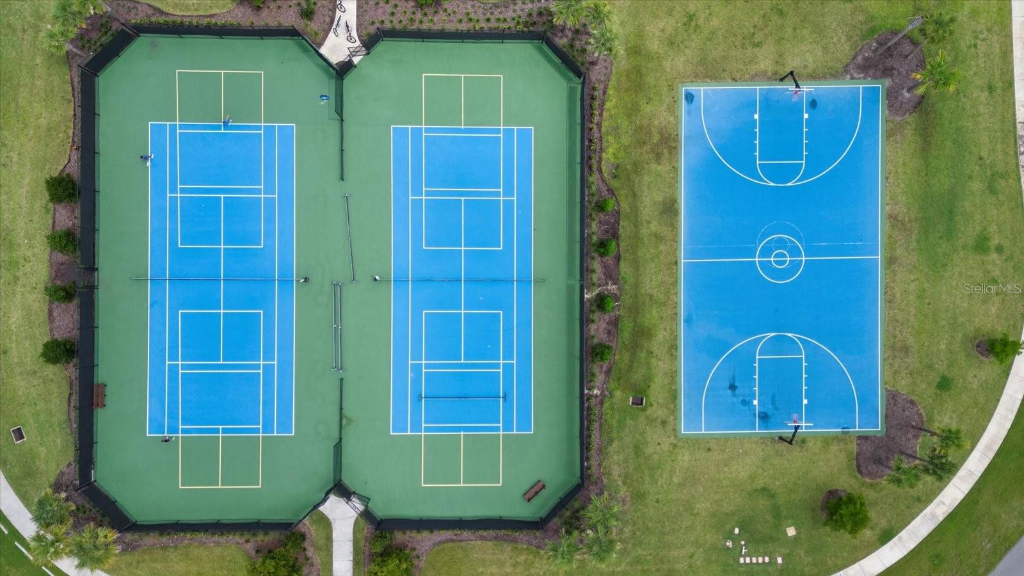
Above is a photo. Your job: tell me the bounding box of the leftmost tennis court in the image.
[92,34,343,524]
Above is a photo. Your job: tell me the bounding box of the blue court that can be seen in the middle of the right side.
[678,79,887,438]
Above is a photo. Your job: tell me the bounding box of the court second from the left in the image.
[339,37,586,521]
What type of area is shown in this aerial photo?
sports ground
